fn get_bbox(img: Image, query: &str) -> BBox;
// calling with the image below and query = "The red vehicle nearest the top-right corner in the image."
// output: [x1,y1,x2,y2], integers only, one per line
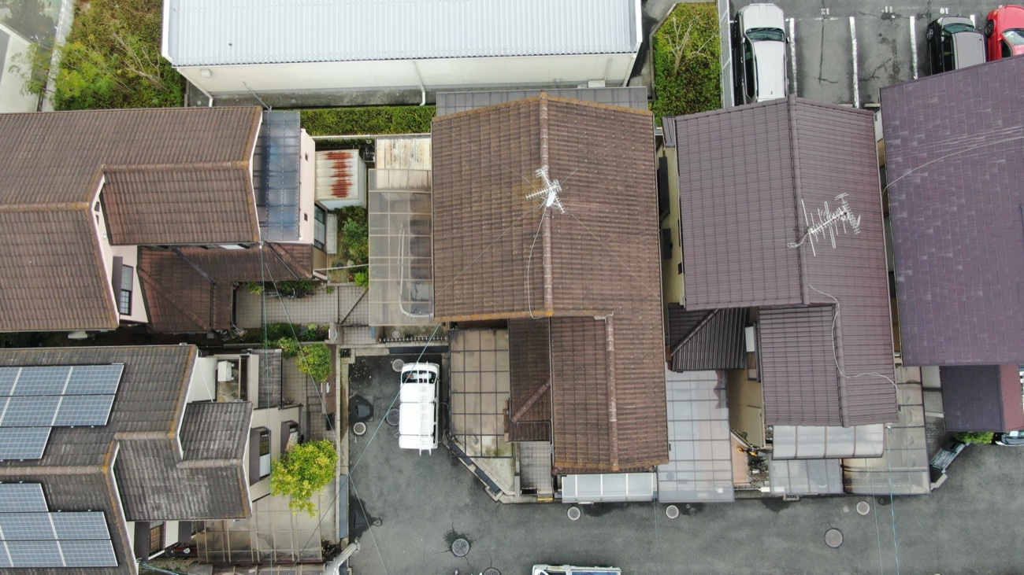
[982,6,1024,62]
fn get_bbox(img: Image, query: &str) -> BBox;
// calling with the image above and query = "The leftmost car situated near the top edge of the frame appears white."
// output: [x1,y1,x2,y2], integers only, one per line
[733,5,788,106]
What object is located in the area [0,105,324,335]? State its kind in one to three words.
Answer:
house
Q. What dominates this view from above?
buildings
